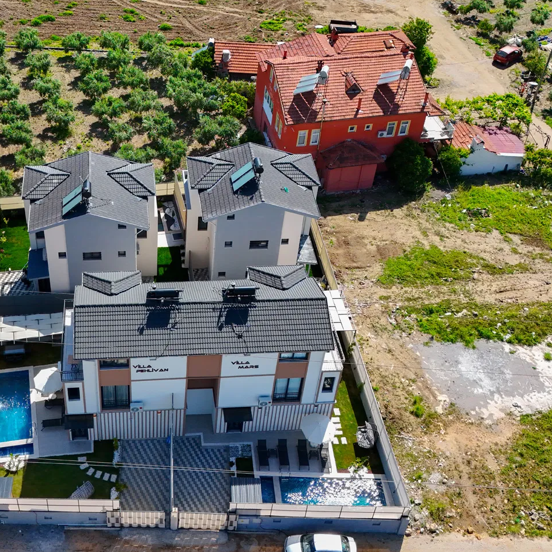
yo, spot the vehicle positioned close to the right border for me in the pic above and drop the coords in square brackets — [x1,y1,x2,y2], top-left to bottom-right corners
[494,45,525,64]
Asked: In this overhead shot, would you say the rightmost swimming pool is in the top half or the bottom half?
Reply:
bottom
